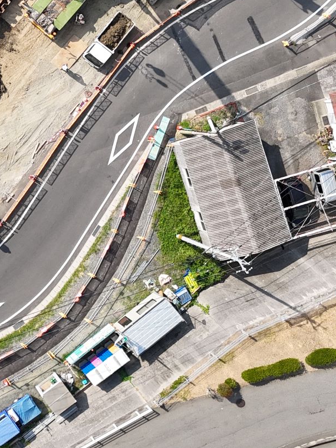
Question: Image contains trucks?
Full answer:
Yes, a truck appears in the view.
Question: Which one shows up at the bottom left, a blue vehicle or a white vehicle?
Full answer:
What appears at the bottom left is a blue vehicle.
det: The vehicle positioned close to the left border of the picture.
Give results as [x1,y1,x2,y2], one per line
[0,389,49,448]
